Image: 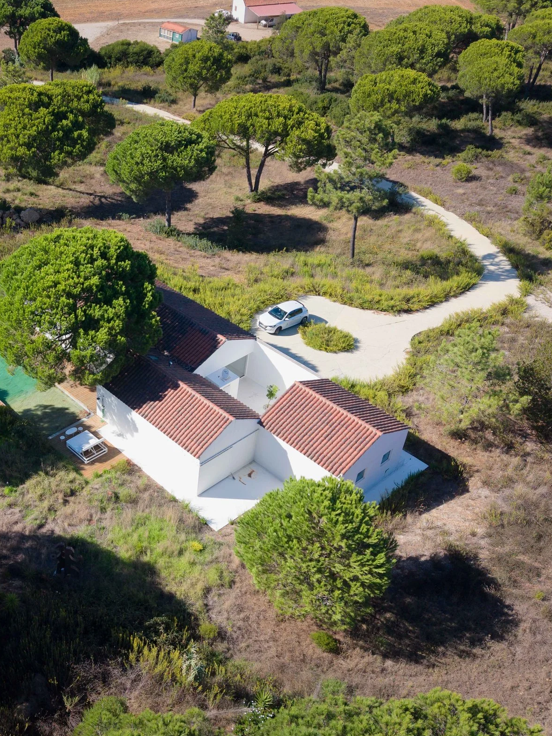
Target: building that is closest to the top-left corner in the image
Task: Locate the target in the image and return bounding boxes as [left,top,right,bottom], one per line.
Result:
[158,18,201,43]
